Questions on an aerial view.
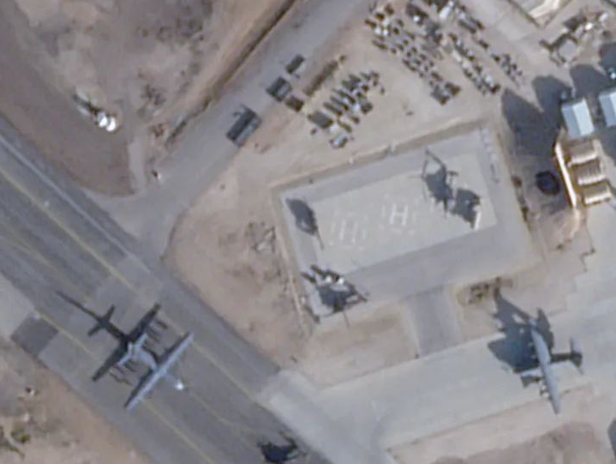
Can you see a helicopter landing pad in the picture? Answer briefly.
Yes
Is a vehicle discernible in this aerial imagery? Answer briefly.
Yes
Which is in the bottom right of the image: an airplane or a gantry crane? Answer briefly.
airplane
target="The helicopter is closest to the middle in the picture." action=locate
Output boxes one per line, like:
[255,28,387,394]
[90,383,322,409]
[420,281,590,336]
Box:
[304,209,327,255]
